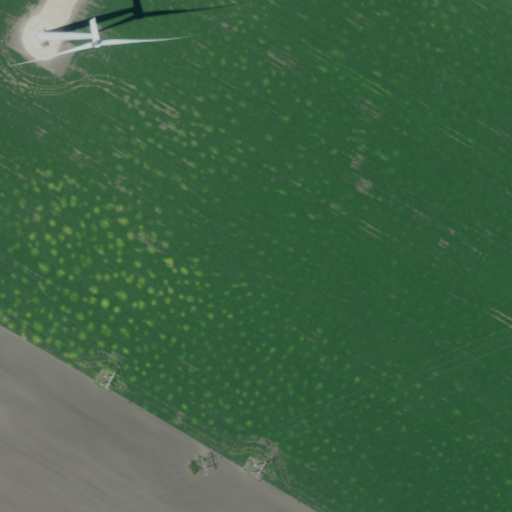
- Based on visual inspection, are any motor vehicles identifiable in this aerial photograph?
No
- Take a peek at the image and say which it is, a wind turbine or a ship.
wind turbine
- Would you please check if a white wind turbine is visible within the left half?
Yes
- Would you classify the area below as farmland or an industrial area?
farmland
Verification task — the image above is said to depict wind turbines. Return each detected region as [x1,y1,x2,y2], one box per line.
[10,16,190,66]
